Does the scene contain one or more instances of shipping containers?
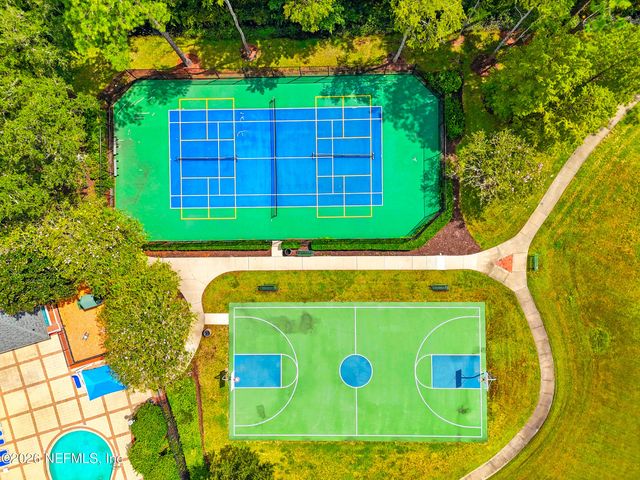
No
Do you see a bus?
No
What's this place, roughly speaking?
sports ground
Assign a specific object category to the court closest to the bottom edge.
basketball court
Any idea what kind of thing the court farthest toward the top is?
tennis court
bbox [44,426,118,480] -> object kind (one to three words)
swimming pool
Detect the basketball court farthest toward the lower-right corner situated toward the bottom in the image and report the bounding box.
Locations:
[229,302,487,441]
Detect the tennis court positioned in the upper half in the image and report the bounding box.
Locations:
[114,76,439,241]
